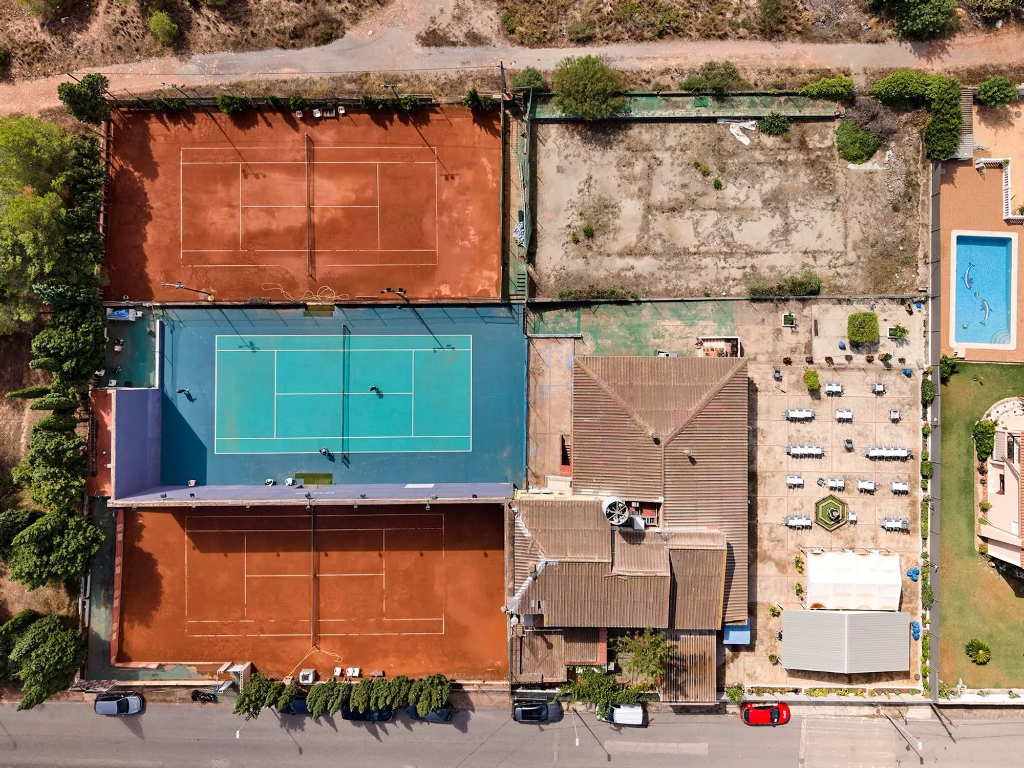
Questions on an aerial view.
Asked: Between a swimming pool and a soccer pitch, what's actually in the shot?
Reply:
swimming pool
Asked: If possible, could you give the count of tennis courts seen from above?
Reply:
3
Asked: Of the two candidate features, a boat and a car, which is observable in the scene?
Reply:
car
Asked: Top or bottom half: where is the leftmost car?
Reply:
bottom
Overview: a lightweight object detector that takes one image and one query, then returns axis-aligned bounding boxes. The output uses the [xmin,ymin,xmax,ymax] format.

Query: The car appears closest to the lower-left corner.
[94,689,146,716]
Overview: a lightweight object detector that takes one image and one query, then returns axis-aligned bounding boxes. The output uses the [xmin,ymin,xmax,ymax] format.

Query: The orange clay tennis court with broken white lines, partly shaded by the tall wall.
[117,504,508,684]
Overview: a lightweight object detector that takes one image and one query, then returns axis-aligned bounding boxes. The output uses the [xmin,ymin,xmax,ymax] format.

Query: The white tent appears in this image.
[799,547,900,610]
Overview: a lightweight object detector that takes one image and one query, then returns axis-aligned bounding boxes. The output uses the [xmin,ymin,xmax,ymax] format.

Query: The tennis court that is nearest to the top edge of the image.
[105,105,502,301]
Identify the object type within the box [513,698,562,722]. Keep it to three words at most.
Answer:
car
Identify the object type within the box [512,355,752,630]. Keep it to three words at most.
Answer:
building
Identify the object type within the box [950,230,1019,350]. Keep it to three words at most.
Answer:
swimming pool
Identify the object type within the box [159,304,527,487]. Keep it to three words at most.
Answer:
tennis court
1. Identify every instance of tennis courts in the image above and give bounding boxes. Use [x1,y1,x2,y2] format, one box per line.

[105,105,502,301]
[117,504,508,684]
[159,304,527,487]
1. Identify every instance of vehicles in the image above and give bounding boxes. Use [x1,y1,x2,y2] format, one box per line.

[94,689,146,716]
[344,696,393,722]
[740,697,788,722]
[513,698,562,722]
[596,699,645,721]
[405,698,455,723]
[275,691,319,715]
